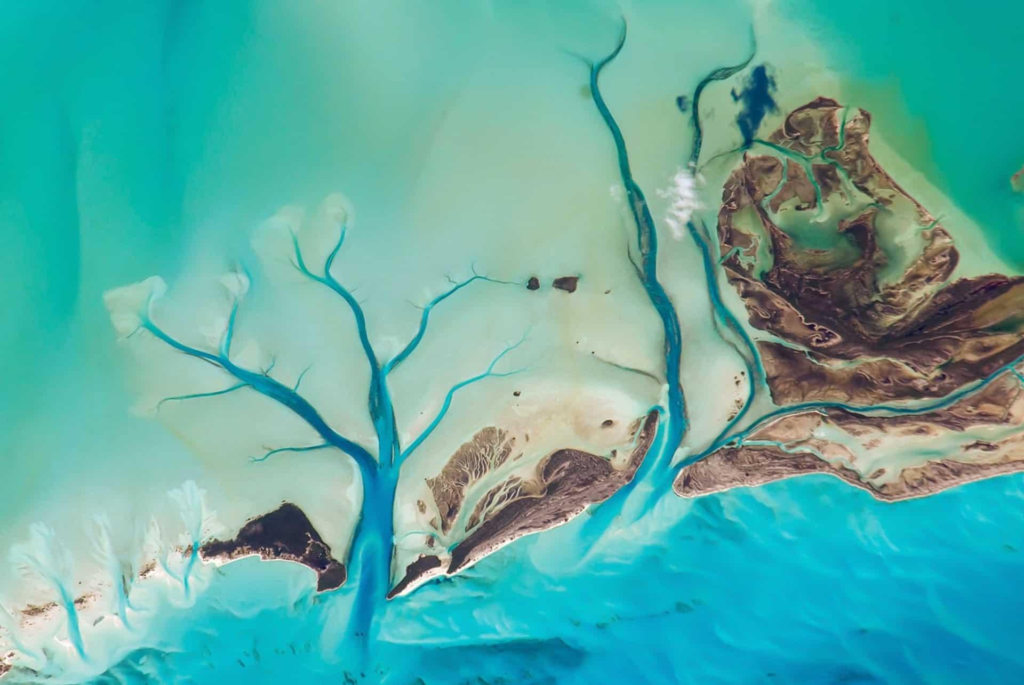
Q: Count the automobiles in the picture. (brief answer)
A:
zero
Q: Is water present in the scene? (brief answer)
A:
Yes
